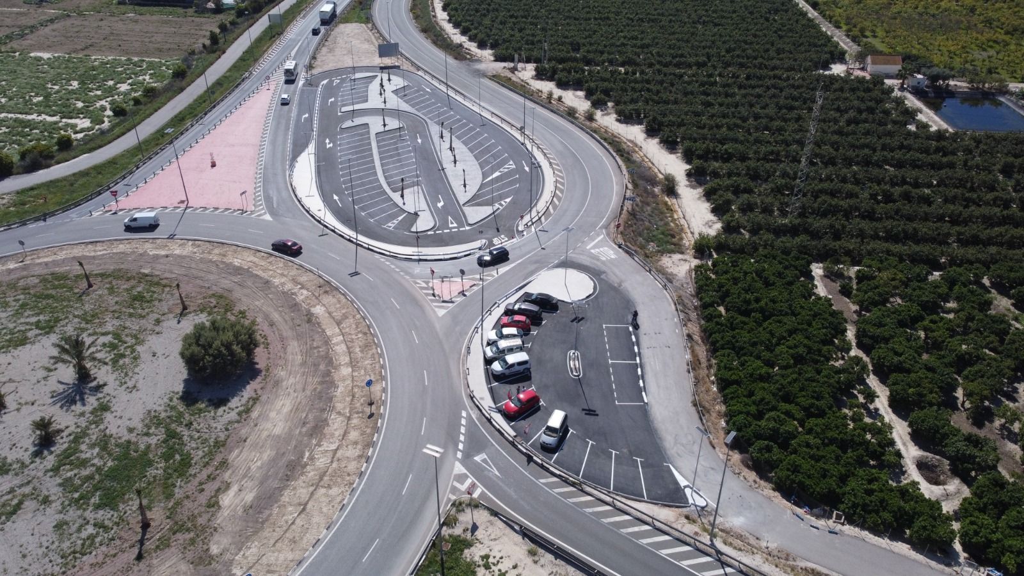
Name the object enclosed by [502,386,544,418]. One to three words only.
car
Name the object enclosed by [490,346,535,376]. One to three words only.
van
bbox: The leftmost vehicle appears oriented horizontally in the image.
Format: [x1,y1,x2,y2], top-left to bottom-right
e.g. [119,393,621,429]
[120,209,161,228]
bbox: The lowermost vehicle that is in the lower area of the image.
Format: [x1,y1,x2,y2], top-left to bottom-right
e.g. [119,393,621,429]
[539,405,570,449]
